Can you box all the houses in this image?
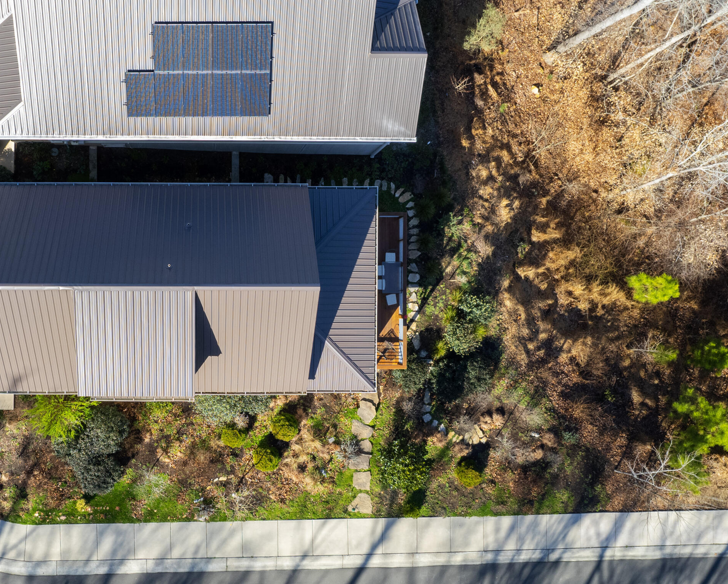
[0,182,377,402]
[0,0,428,159]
